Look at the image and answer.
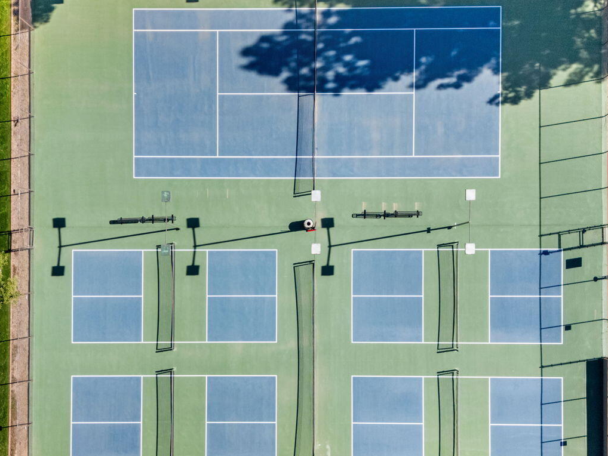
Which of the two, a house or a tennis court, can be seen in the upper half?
tennis court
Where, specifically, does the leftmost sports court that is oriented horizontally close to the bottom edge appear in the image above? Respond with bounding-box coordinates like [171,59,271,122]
[70,375,277,456]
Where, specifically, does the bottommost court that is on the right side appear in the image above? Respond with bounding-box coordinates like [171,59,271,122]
[351,376,564,456]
